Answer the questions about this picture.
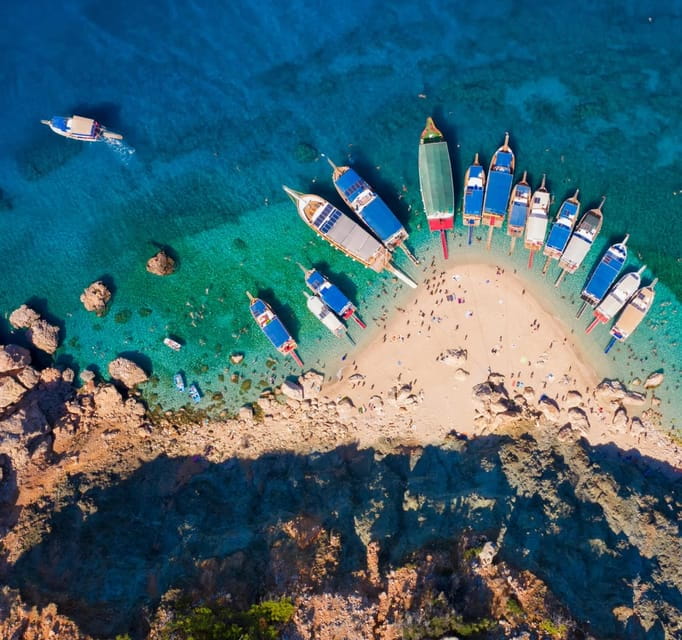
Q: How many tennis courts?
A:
zero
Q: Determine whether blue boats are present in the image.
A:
Yes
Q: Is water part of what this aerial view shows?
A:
Yes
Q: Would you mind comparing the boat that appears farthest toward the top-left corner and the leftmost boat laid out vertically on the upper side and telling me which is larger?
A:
the leftmost boat laid out vertically on the upper side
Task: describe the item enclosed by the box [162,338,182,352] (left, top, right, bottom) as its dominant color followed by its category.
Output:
white boat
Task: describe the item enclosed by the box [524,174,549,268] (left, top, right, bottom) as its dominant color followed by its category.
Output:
white boat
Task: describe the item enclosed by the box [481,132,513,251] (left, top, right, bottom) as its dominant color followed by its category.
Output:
blue boat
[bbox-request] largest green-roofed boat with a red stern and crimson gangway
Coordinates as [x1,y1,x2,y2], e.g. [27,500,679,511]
[419,118,455,259]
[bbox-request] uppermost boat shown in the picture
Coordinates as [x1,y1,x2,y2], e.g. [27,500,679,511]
[40,117,122,145]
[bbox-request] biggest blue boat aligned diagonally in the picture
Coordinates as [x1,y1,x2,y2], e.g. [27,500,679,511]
[329,157,415,262]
